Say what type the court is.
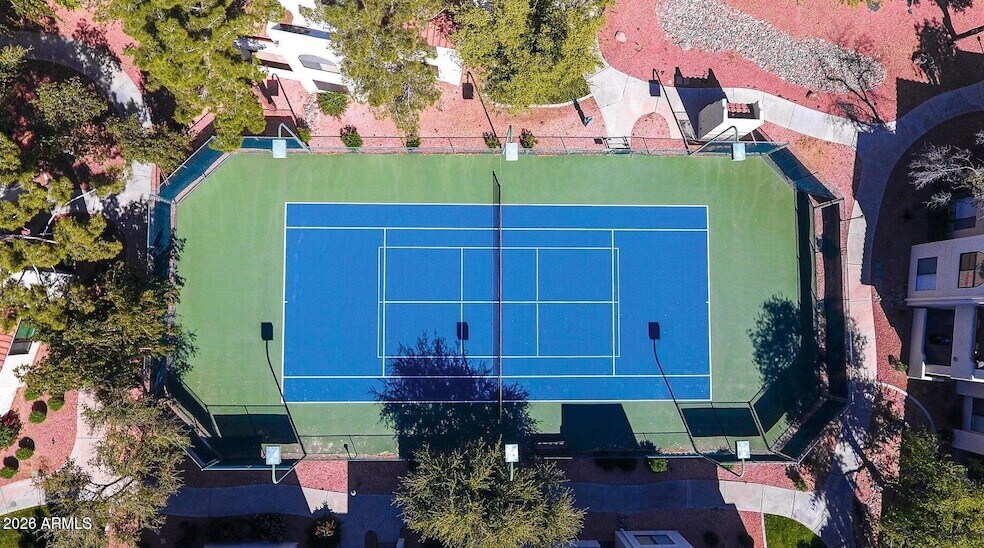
tennis court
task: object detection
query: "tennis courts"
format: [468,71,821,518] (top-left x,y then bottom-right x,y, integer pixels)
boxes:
[170,150,824,460]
